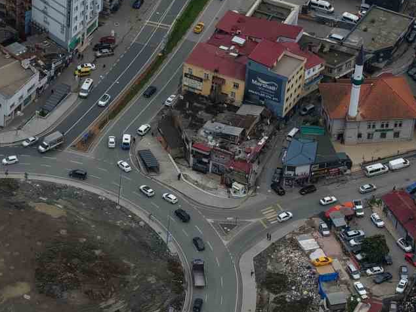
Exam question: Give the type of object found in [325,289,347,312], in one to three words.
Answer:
shed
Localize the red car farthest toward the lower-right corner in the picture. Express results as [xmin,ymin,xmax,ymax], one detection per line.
[404,255,416,267]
